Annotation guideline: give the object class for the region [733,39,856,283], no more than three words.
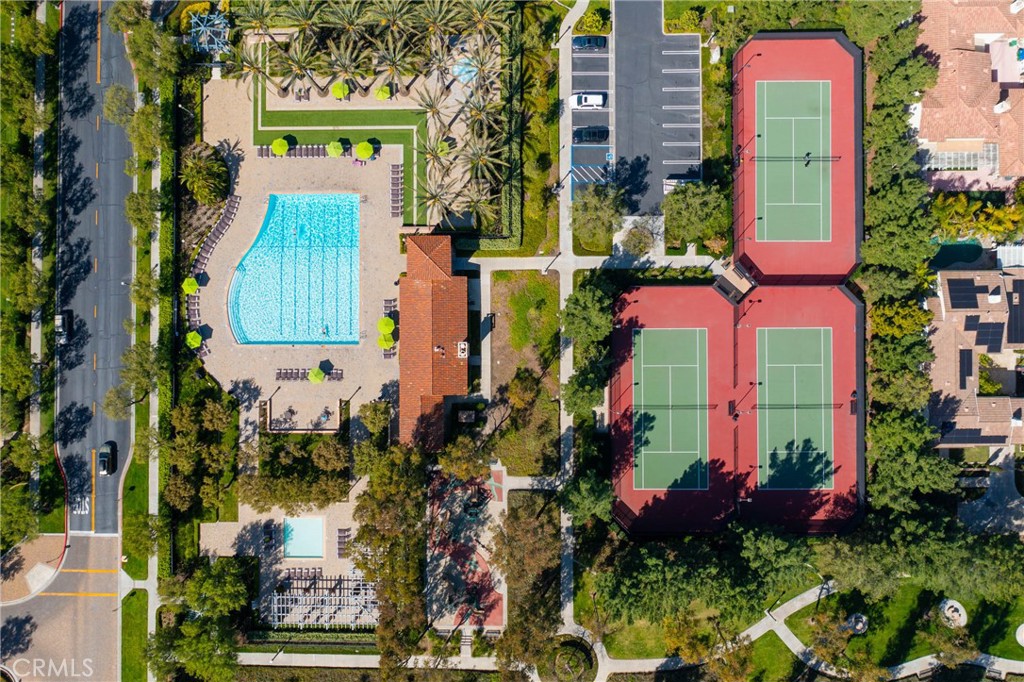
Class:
tennis court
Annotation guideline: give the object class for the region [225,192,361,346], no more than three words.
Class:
swimming pool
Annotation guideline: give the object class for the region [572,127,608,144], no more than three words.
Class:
car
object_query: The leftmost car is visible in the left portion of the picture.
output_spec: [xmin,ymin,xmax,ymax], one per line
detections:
[52,312,72,344]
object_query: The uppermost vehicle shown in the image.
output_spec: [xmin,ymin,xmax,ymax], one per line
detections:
[573,35,607,52]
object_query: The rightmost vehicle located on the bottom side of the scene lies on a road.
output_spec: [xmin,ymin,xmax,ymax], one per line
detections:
[96,443,115,476]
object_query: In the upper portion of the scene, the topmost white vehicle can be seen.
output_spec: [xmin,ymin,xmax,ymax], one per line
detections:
[568,93,603,111]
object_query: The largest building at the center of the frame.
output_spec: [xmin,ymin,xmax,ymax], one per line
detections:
[399,235,467,451]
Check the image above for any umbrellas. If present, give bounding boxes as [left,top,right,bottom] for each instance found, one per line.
[378,317,394,333]
[378,334,395,349]
[357,143,373,159]
[273,139,289,155]
[186,330,203,347]
[375,85,391,101]
[183,278,199,295]
[435,142,452,157]
[309,368,326,384]
[328,142,344,158]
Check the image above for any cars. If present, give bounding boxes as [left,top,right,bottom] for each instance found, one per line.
[568,93,603,111]
[52,312,72,344]
[573,35,607,52]
[96,443,115,476]
[572,127,608,144]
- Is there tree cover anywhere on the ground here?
Yes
